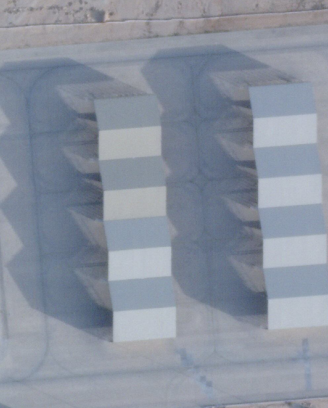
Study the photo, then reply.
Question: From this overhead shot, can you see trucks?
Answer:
No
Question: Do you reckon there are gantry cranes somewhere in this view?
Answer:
No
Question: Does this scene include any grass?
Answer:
No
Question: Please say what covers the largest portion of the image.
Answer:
paved ground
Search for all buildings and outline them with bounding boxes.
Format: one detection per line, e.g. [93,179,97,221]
[88,95,175,342]
[243,83,328,330]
